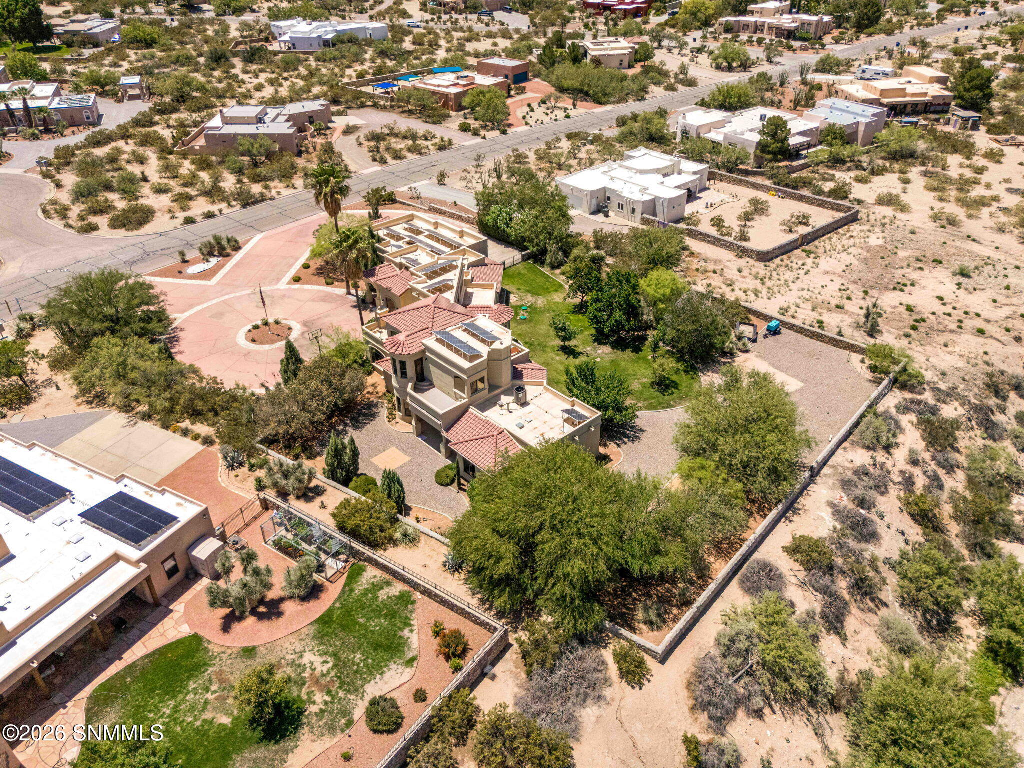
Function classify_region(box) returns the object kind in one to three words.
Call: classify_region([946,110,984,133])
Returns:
building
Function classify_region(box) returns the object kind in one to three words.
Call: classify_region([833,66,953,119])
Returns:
house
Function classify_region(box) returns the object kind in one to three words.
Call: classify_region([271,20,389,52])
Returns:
house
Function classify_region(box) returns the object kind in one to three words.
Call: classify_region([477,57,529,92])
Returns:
building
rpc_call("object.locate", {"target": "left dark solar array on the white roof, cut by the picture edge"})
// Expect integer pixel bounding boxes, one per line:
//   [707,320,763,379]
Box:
[0,457,72,519]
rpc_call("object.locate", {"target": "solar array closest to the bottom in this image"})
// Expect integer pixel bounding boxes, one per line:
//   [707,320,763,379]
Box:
[79,492,178,551]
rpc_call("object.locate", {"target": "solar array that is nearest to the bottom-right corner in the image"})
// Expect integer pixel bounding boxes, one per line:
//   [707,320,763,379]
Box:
[561,409,590,436]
